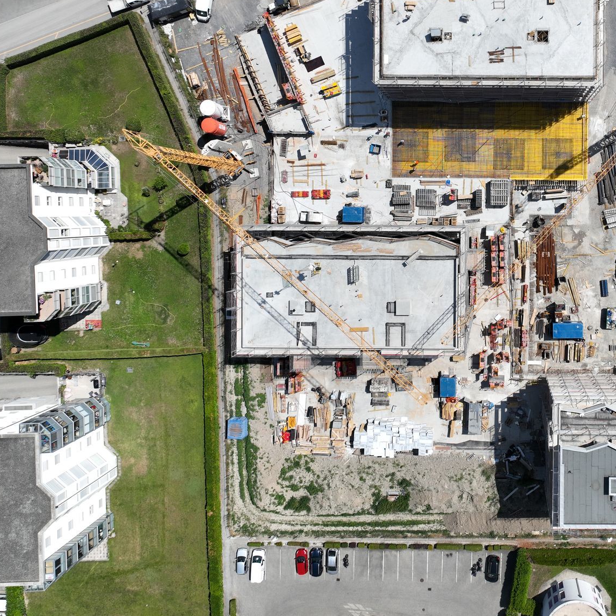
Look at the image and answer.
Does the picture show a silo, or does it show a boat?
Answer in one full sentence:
I can see a silo in this picture.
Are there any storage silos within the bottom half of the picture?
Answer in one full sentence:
No, there is no storage silo within the bottom half of the picture.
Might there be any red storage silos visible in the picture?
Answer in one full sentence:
Yes, you can see a red storage silo in this photo.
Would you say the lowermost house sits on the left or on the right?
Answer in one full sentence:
The lowermost house is on the right side of the image.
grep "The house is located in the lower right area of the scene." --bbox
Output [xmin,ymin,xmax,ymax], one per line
[544,580,610,616]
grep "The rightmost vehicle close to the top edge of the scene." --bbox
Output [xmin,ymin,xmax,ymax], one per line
[271,0,303,13]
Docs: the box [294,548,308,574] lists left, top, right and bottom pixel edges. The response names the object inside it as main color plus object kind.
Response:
red car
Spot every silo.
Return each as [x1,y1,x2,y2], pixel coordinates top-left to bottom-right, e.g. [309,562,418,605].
[200,99,241,122]
[202,117,242,138]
